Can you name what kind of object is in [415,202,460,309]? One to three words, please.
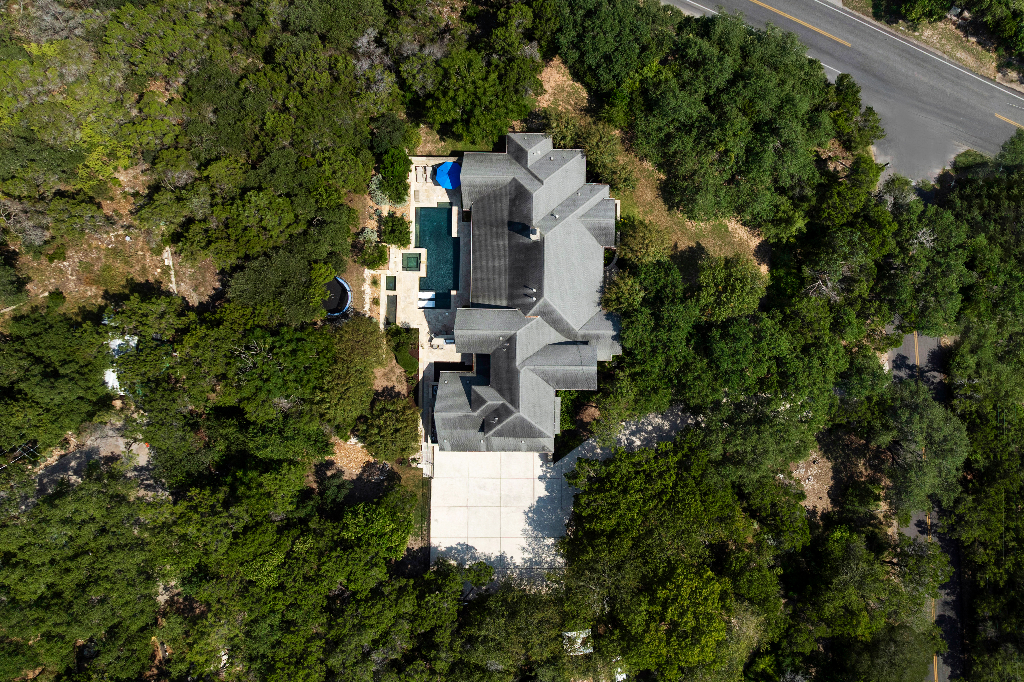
swimming pool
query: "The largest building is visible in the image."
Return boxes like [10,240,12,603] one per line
[434,132,623,453]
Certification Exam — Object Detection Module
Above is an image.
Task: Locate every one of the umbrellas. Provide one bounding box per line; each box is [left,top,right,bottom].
[428,160,461,189]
